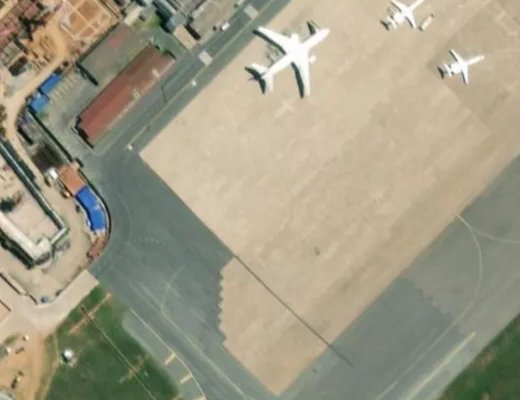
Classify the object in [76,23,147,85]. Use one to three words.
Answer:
building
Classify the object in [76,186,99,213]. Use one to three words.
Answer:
shed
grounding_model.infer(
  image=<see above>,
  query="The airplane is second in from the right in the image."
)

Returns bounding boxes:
[391,0,424,29]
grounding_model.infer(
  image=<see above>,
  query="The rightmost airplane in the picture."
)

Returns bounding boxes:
[446,49,483,83]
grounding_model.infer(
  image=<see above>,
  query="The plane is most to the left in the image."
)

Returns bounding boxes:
[250,26,329,98]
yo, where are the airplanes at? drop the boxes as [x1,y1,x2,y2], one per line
[250,26,329,98]
[391,0,424,29]
[446,49,483,83]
